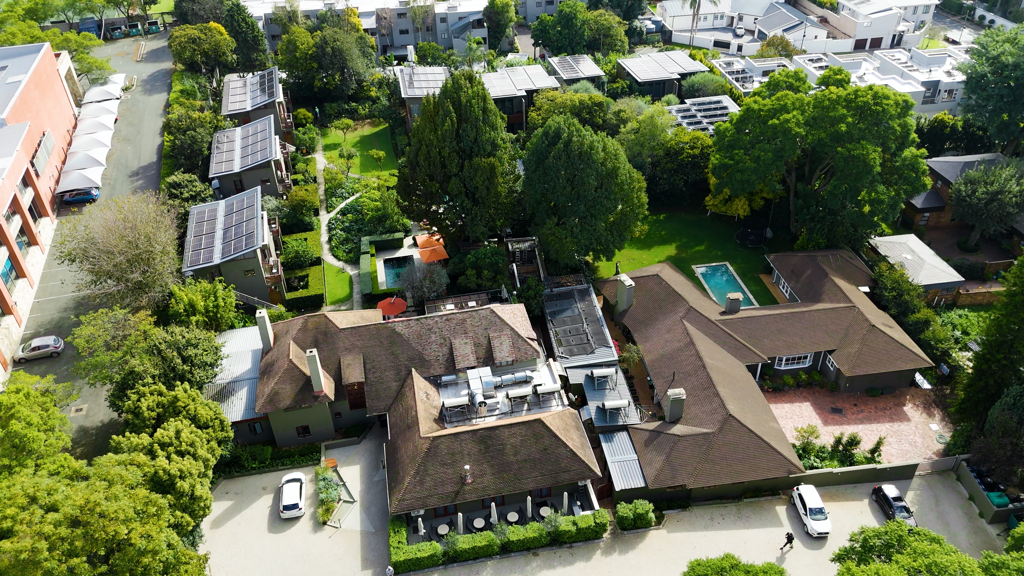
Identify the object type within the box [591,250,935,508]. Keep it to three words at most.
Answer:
house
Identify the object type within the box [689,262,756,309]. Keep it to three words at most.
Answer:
swimming pool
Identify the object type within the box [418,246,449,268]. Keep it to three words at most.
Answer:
umbrella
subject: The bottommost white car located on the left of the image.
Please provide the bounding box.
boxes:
[276,469,307,520]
